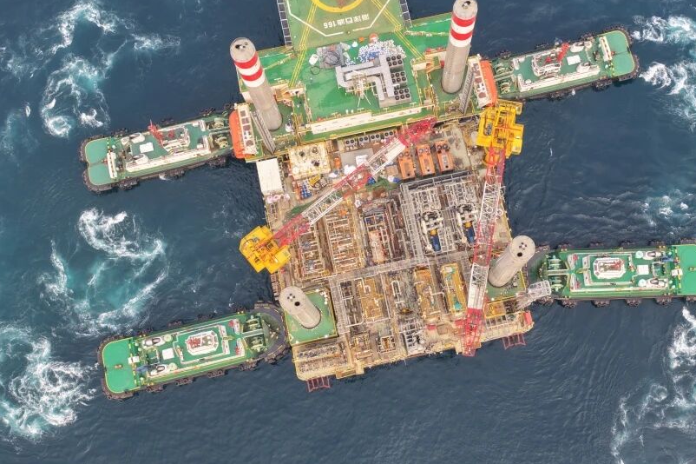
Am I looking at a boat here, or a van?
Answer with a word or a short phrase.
boat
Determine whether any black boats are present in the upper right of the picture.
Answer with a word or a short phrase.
No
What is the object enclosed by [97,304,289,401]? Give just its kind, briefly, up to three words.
boat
